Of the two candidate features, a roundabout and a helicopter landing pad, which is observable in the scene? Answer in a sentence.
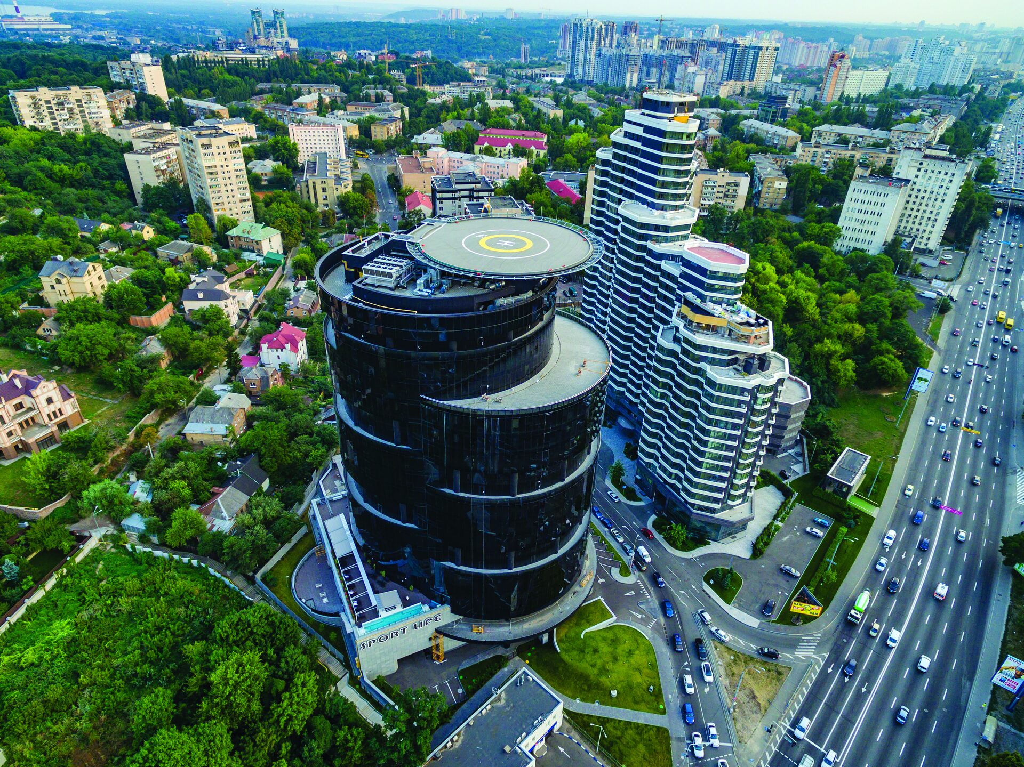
There is a helicopter landing pad in the scene.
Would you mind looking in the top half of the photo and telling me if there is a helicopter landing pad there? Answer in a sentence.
Yes, a helicopter landing pad can be seen in the top half of the photo.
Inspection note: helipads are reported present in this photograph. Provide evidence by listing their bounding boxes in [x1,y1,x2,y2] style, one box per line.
[382,214,603,306]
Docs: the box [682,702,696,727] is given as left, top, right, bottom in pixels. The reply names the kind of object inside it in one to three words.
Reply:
car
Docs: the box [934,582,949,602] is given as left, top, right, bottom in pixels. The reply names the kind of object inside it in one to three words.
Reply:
vehicle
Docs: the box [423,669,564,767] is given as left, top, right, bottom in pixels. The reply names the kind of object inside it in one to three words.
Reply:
building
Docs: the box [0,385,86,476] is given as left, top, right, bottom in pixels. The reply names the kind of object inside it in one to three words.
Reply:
house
